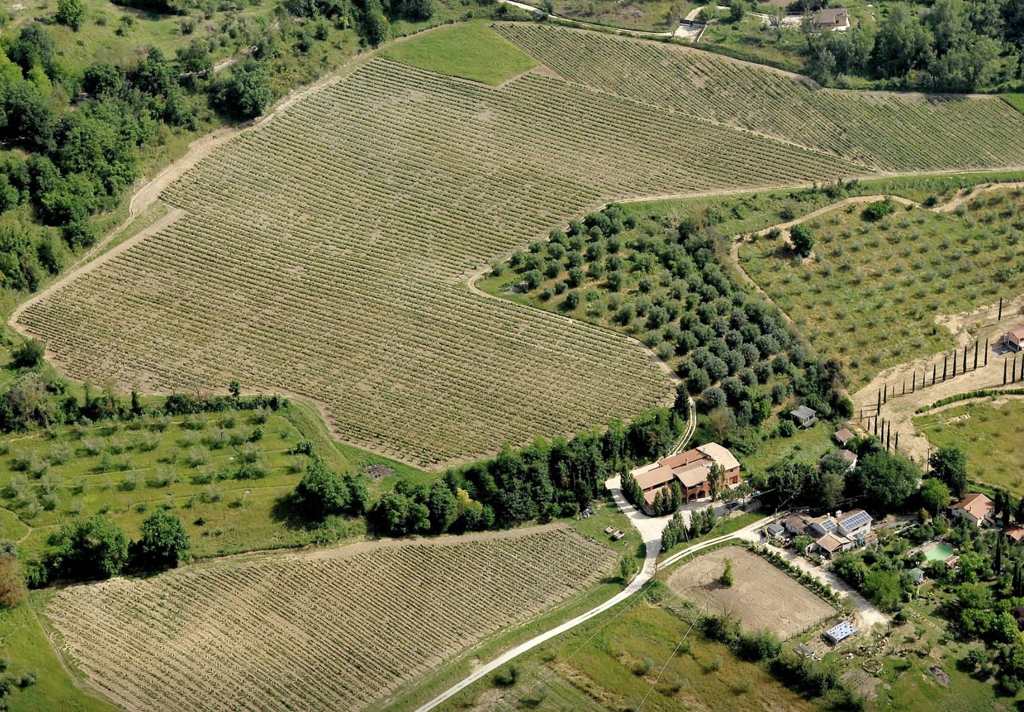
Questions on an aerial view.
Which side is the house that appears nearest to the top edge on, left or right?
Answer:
right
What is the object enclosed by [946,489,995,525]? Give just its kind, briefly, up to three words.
house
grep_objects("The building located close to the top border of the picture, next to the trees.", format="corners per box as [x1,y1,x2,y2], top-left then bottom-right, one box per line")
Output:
[814,11,854,35]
